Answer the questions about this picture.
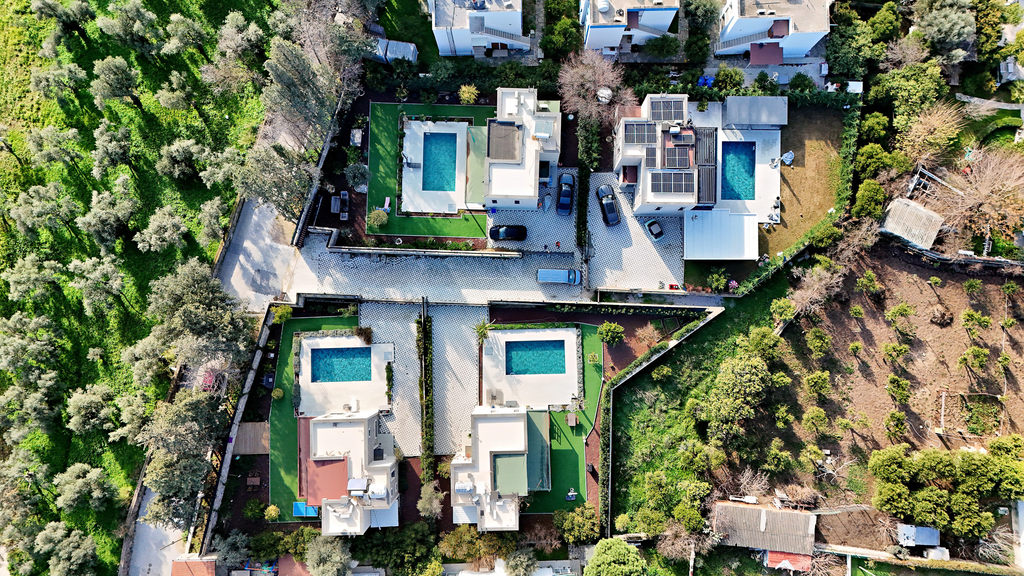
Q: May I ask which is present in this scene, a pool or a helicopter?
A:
pool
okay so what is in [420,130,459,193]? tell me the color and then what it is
blue swimming pool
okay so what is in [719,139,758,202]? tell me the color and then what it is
blue swimming pool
